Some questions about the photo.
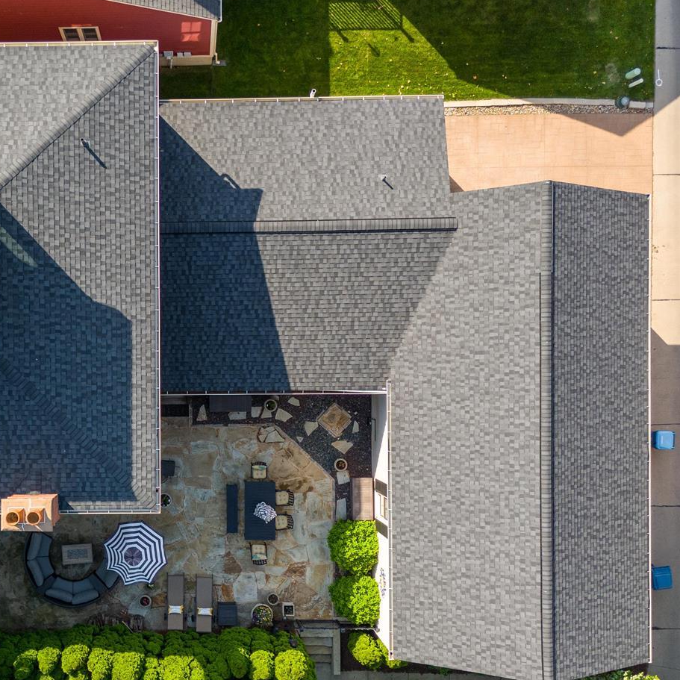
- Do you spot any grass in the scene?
Yes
